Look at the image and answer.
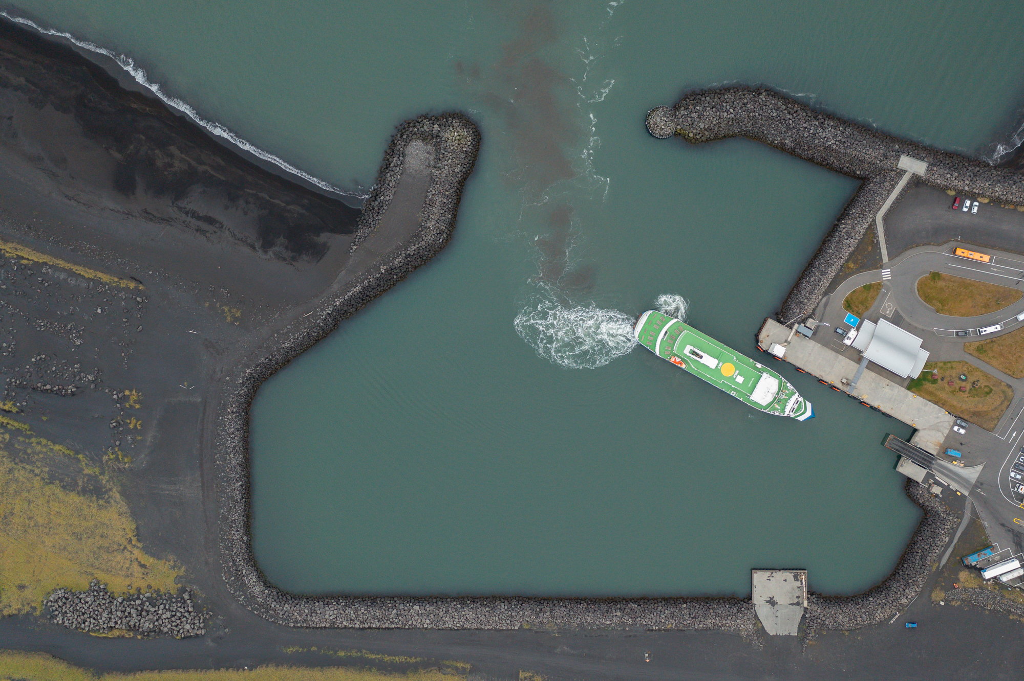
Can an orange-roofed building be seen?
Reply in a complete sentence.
No, there isn't any orange-roofed building down there.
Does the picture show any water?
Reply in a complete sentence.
Yes, water can be seen from above here.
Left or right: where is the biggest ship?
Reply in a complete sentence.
It is on the right.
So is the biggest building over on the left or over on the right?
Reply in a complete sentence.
You can find the biggest building on the right side of the picture.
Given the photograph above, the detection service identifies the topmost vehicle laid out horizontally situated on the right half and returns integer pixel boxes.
[952,246,991,262]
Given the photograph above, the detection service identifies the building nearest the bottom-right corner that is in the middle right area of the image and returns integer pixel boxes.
[849,318,930,379]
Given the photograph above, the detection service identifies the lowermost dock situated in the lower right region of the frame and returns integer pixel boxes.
[749,567,809,637]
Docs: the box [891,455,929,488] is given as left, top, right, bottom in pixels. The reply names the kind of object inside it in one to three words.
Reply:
pier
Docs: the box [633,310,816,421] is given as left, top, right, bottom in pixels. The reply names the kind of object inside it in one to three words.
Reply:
ship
